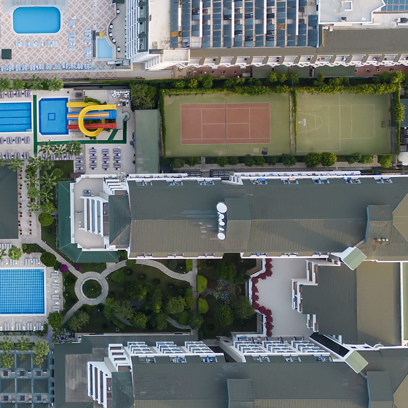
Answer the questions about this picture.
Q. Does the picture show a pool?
Yes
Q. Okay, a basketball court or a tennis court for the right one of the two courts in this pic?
basketball court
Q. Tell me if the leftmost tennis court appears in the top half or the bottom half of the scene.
top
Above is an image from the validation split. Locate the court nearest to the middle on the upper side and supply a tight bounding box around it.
[164,92,290,156]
